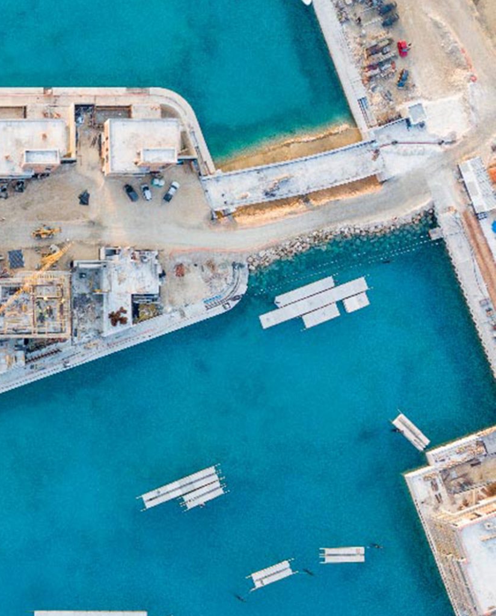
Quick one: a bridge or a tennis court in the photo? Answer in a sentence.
I can see a bridge in this picture.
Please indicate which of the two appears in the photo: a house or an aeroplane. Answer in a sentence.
I can see a house in this picture.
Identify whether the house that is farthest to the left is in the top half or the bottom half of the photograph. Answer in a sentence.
The house that is farthest to the left sits in the top half of the picture.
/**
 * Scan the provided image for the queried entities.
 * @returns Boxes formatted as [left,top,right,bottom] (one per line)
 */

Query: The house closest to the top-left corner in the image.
[0,105,67,181]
